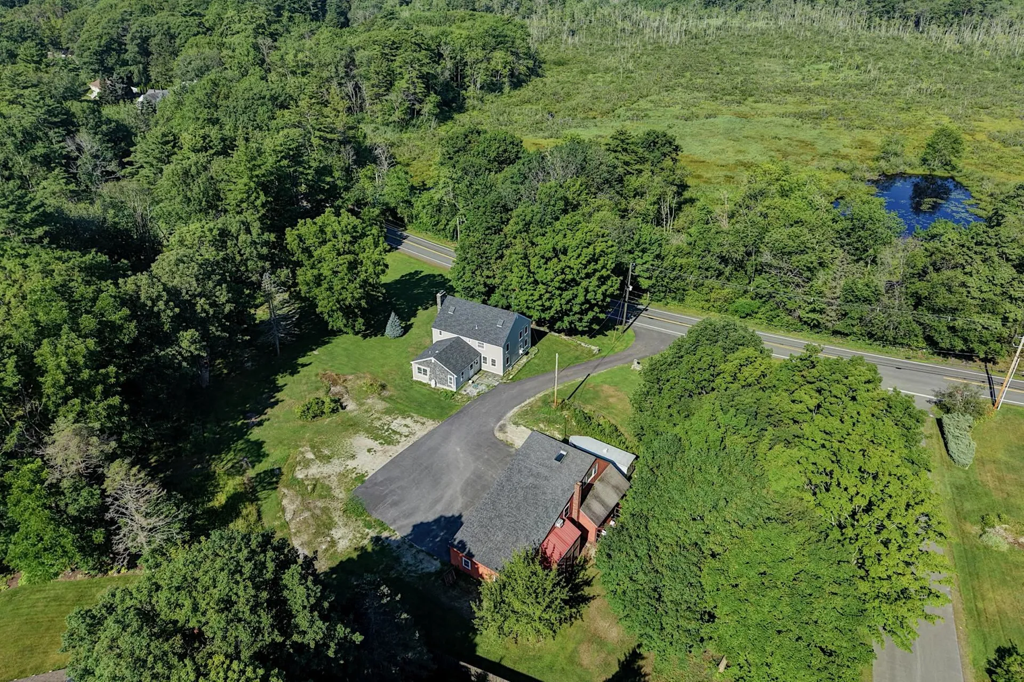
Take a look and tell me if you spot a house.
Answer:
Yes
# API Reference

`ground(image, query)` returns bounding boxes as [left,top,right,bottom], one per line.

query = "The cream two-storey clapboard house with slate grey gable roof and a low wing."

[410,288,532,391]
